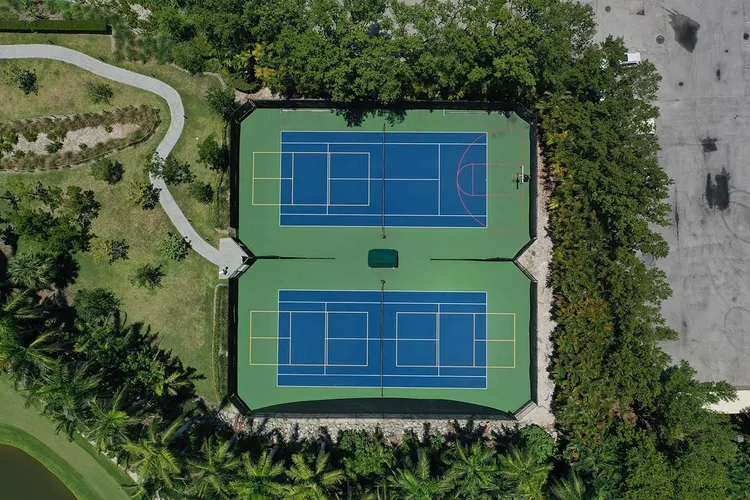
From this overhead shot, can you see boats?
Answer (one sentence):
No, I can see no boat in this picture.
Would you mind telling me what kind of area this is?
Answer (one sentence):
The picture captures a sports ground.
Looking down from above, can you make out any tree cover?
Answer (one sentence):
Yes, there's tree cover in this view.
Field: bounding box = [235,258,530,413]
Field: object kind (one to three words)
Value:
tennis court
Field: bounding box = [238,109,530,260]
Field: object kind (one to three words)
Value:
tennis court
